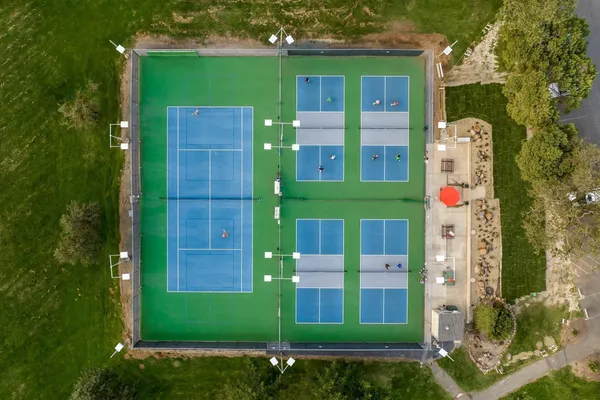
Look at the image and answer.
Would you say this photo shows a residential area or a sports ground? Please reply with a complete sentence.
The picture captures a sports ground.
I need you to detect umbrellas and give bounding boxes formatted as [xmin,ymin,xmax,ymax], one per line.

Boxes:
[439,186,459,206]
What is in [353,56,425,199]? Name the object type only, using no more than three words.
sports court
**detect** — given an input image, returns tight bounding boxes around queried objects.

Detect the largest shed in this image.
[432,309,468,343]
